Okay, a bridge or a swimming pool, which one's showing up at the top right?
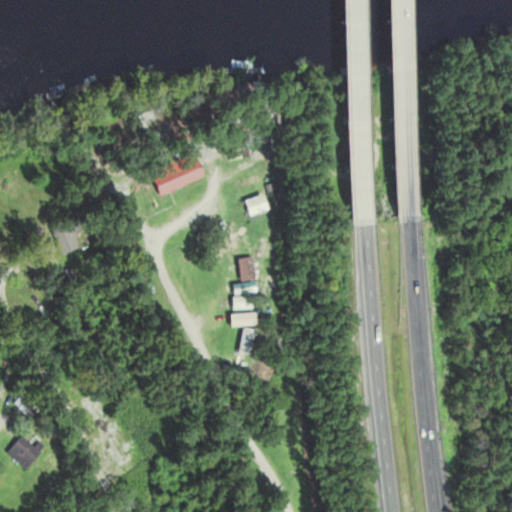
bridge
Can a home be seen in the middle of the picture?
Yes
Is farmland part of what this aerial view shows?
No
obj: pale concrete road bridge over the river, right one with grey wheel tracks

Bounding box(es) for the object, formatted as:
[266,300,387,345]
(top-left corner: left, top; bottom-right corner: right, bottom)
[389,0,424,223]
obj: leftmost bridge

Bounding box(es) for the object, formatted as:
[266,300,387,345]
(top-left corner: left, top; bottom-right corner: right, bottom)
[344,0,377,226]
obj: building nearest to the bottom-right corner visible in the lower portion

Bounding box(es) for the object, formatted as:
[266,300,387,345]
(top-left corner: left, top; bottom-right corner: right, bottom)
[250,360,276,382]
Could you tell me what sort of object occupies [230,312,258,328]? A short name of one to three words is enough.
house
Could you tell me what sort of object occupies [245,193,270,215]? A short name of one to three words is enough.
building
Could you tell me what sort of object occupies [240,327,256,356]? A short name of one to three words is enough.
house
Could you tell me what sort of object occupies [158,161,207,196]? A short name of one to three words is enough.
barn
